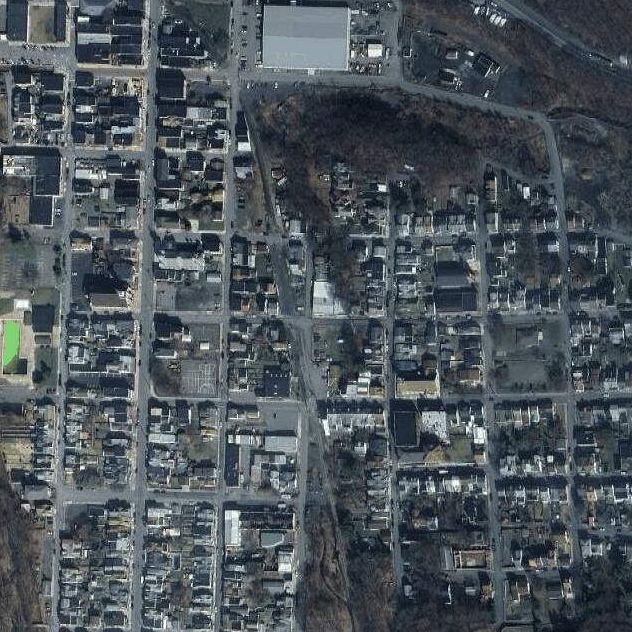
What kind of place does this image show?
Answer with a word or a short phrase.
residential area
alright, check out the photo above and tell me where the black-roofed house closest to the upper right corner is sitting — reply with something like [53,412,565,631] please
[470,52,498,76]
